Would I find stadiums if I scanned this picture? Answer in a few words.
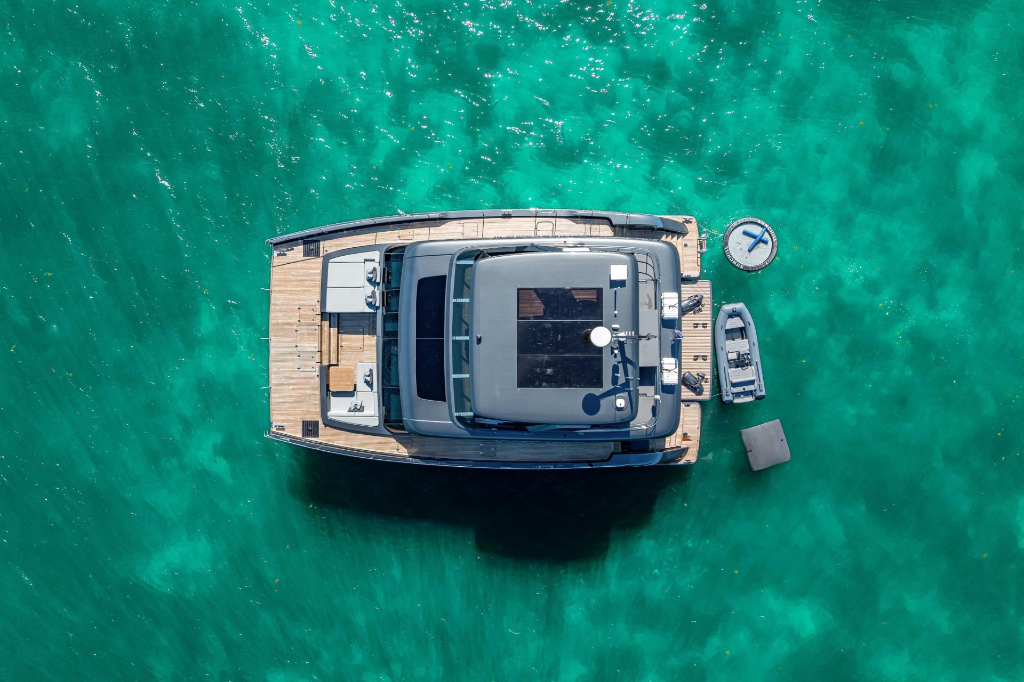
No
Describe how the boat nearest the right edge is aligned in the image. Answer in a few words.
up and down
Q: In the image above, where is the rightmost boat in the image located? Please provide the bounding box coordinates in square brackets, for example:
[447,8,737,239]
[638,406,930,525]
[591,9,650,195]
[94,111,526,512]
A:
[715,301,766,404]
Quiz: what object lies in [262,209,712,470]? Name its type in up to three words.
boat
